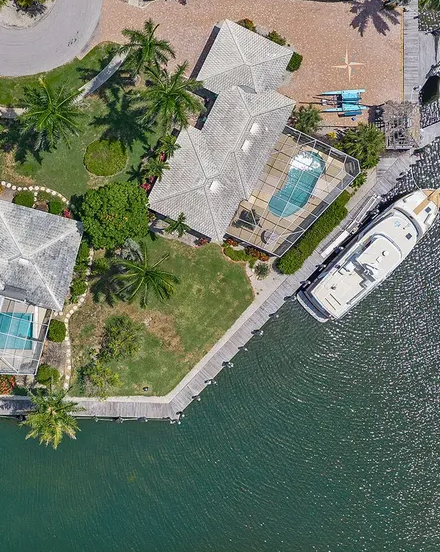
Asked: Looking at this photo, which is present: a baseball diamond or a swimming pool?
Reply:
swimming pool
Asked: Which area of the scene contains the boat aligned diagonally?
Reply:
right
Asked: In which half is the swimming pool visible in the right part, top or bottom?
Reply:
top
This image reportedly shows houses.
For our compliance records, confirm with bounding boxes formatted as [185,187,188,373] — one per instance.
[149,19,296,242]
[0,200,82,311]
